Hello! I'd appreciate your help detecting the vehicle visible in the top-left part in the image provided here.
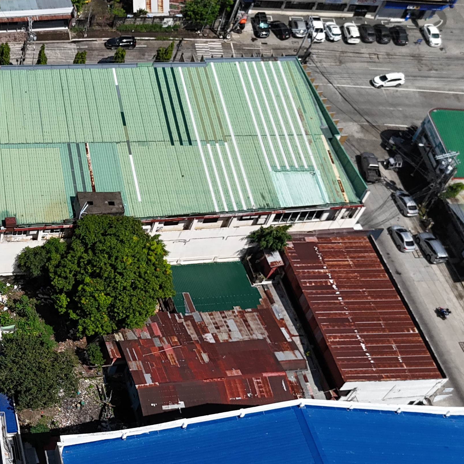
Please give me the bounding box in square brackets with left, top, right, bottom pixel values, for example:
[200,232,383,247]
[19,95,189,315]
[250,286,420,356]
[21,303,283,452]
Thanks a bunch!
[105,34,138,51]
